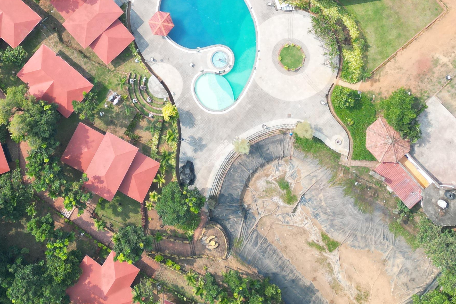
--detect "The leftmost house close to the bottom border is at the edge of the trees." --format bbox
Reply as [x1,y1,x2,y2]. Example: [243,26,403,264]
[66,252,143,304]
